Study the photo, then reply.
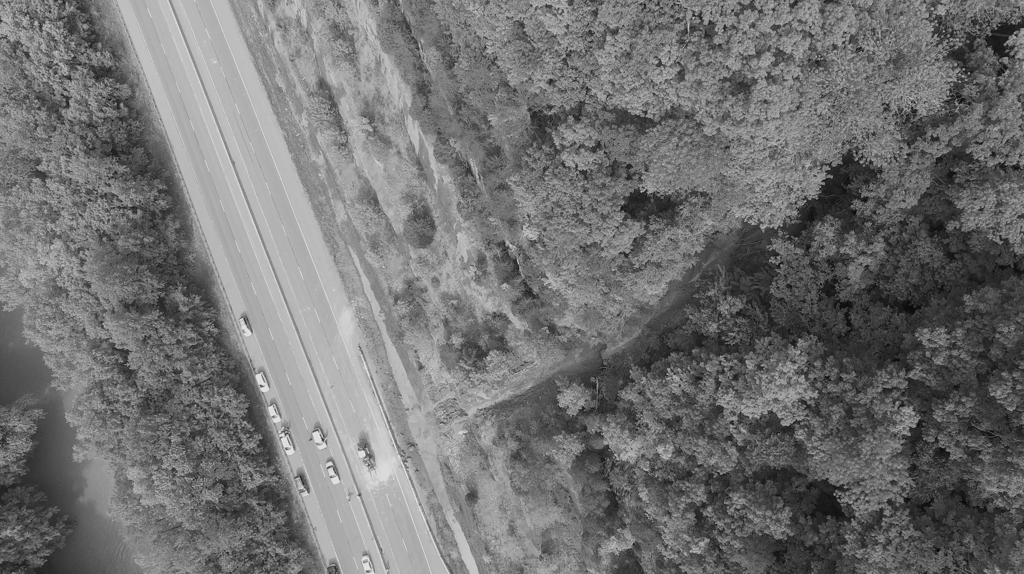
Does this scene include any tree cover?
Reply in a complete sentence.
Yes, some tree cover is visible.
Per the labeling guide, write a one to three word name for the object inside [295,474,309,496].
car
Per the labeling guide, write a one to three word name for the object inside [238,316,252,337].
car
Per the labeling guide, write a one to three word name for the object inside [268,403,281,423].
vehicle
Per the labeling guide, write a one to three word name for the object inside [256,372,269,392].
vehicle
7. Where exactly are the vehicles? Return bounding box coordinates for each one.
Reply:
[280,433,294,454]
[358,443,377,475]
[238,316,252,337]
[268,403,281,423]
[256,372,269,392]
[327,563,338,574]
[313,429,328,449]
[361,554,374,574]
[295,474,309,496]
[326,462,339,482]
